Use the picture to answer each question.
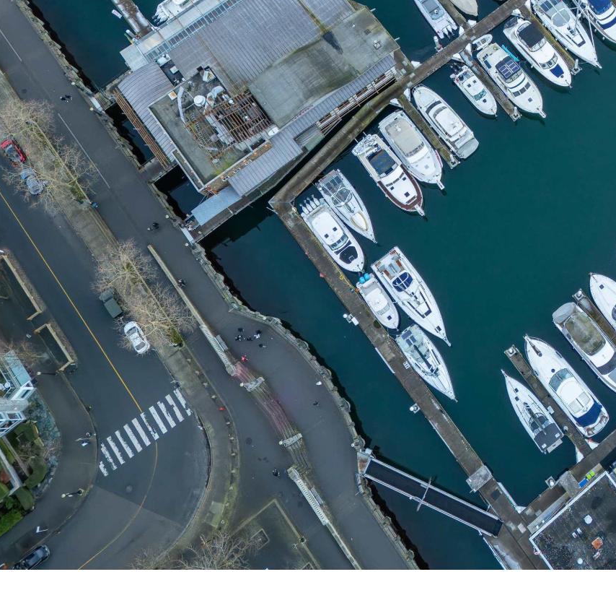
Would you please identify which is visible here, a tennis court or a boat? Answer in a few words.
boat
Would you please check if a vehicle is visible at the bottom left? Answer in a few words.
Yes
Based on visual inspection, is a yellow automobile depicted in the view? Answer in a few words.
No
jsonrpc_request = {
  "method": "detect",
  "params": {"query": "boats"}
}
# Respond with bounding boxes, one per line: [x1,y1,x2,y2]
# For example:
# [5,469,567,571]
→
[412,86,481,161]
[413,0,451,38]
[548,302,570,320]
[529,0,601,71]
[475,36,492,51]
[397,327,458,405]
[586,273,616,331]
[155,0,200,23]
[502,367,565,456]
[549,302,616,391]
[566,0,616,46]
[355,274,401,334]
[498,14,575,88]
[448,63,501,118]
[472,41,548,122]
[373,249,451,345]
[316,168,377,241]
[355,138,426,219]
[377,112,455,190]
[301,200,364,276]
[520,336,607,439]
